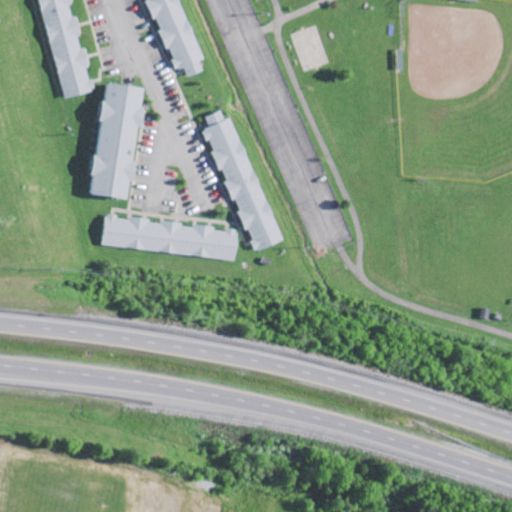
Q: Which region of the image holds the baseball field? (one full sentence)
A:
The baseball field is located in the top right region of the scene.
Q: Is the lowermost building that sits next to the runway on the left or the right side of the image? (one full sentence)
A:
The lowermost building that sits next to the runway appears in the left half of the scene.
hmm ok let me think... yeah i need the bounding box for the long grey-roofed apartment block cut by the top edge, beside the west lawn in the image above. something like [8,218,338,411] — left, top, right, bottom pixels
[38,0,95,99]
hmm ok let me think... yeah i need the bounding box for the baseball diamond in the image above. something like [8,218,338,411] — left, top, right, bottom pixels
[398,0,512,182]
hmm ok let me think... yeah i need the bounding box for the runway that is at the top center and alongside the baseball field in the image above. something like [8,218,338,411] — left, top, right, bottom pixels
[208,0,352,247]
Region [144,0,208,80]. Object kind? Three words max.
building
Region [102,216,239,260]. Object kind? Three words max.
building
